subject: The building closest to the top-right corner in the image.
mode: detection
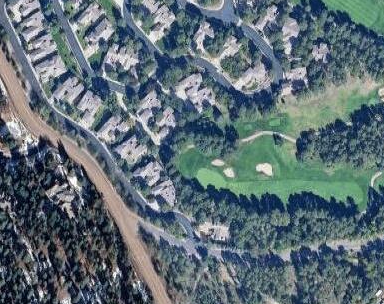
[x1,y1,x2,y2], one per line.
[308,41,329,64]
